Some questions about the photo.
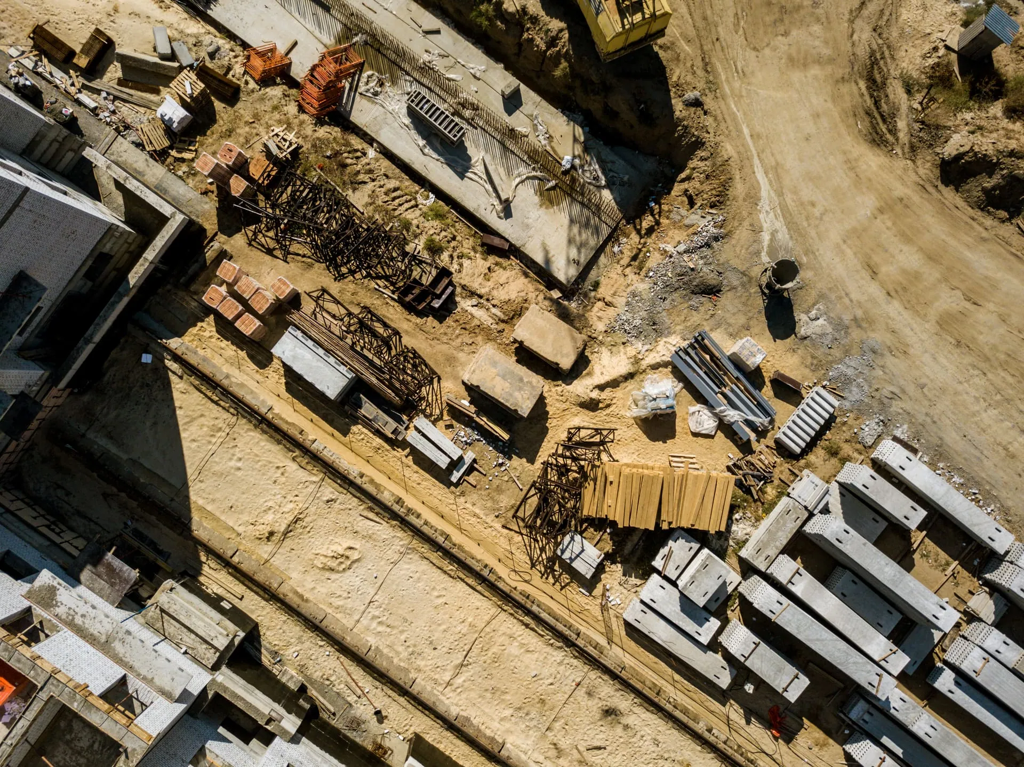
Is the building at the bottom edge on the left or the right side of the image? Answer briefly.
left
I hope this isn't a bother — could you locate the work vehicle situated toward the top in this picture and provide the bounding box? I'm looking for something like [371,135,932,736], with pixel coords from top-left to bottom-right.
[556,0,673,65]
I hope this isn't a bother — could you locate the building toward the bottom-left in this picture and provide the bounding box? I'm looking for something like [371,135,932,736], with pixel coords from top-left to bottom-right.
[0,477,393,767]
